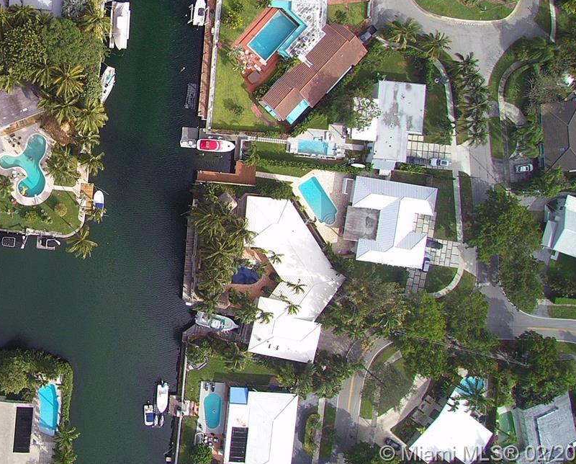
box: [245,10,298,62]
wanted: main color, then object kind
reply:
blue swimming pool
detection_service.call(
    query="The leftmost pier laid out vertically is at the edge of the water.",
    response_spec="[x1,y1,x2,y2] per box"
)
[80,182,93,216]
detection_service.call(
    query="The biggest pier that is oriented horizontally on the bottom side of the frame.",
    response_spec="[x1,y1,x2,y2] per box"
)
[180,322,252,345]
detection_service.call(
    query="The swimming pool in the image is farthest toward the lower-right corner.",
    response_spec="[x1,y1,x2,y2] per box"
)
[454,376,485,399]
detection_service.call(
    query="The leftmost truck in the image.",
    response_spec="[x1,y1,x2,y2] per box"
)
[356,23,379,44]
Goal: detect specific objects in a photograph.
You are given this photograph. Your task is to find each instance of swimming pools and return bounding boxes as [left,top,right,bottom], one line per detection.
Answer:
[231,266,262,286]
[245,10,298,62]
[0,131,48,199]
[454,376,485,399]
[296,137,328,155]
[202,393,224,430]
[36,382,60,437]
[297,176,339,226]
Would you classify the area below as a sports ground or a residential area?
residential area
